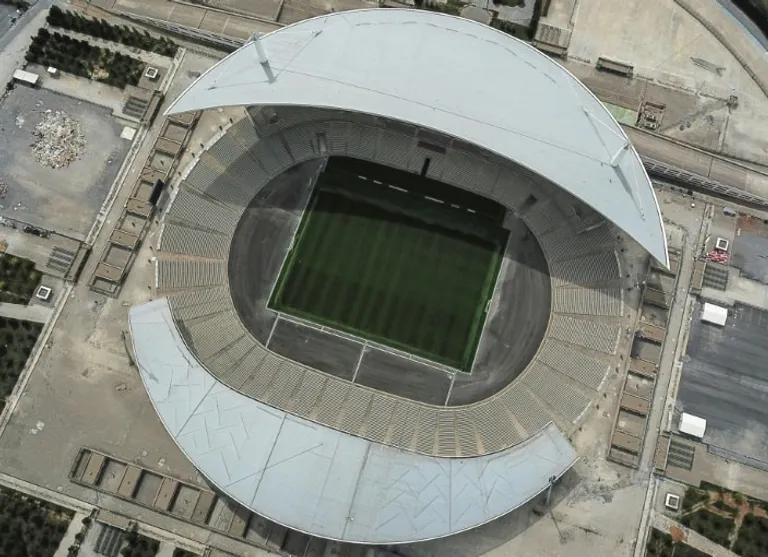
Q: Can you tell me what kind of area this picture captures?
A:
sports ground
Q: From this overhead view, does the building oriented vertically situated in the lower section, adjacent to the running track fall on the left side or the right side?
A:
right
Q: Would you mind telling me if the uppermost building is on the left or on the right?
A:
right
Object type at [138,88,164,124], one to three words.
building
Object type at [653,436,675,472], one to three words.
building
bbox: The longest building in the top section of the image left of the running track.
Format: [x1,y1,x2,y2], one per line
[87,76,201,298]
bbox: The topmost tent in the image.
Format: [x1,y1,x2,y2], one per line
[703,301,730,326]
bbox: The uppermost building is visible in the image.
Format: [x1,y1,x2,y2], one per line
[530,18,573,61]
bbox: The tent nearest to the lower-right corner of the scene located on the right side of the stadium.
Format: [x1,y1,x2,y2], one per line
[678,411,709,438]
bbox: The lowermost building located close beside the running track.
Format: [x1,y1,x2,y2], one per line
[68,448,395,557]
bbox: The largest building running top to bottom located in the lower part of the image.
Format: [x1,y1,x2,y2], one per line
[606,216,688,467]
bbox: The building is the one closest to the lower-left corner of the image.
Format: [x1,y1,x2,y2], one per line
[90,508,131,532]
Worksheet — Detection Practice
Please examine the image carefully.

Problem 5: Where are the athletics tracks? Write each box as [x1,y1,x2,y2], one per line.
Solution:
[228,157,550,405]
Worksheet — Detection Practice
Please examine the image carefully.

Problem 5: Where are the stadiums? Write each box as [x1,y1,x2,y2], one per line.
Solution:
[130,8,668,541]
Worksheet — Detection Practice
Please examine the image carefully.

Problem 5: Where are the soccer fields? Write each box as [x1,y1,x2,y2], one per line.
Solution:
[268,157,510,373]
